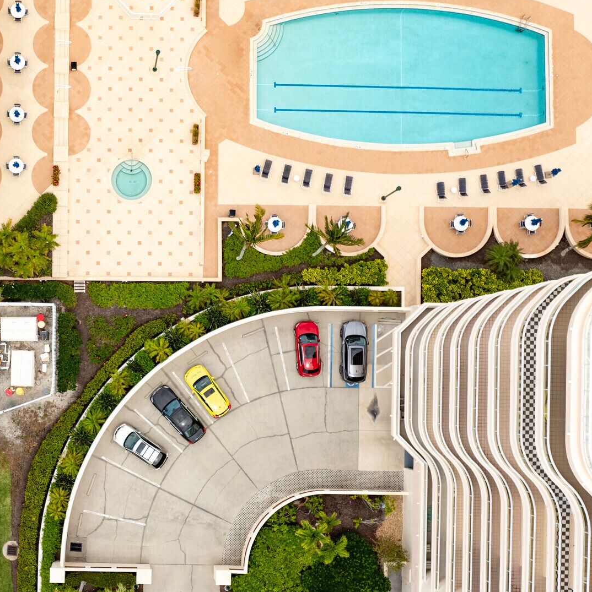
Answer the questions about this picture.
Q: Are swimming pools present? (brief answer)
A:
Yes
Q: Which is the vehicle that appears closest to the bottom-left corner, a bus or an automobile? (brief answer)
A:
automobile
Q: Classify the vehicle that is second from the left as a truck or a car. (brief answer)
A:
car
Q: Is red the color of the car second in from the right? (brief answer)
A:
Yes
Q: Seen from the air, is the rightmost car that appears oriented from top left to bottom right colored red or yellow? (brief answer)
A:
yellow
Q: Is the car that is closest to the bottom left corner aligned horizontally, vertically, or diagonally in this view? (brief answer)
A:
diagonally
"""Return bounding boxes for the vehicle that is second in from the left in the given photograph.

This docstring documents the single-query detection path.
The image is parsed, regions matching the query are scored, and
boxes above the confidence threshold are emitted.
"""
[152,383,205,445]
